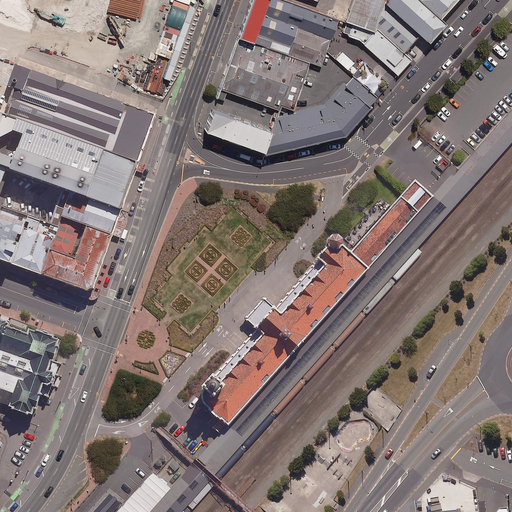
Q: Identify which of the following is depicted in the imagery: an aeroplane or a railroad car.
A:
railroad car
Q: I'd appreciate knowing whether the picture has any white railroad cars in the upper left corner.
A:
No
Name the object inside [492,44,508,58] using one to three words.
vehicle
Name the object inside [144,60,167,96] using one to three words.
shed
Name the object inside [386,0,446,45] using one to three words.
building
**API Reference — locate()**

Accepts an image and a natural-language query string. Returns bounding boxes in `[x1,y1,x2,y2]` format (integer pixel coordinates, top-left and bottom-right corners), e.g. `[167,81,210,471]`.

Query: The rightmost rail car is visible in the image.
[394,250,423,280]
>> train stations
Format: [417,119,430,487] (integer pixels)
[200,180,434,428]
